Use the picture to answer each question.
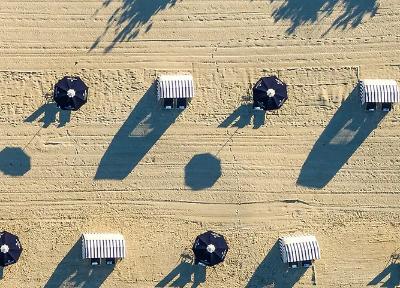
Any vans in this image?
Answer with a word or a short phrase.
No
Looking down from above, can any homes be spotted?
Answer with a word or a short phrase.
No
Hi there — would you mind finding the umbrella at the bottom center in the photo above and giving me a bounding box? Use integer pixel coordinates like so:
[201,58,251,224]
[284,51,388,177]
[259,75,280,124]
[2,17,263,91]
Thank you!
[192,231,228,267]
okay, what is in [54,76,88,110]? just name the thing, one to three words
umbrella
